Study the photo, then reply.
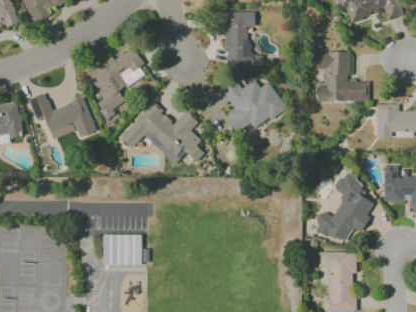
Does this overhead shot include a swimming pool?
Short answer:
Yes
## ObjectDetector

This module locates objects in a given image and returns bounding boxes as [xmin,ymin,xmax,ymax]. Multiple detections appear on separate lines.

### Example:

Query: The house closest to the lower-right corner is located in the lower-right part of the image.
[320,251,357,312]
